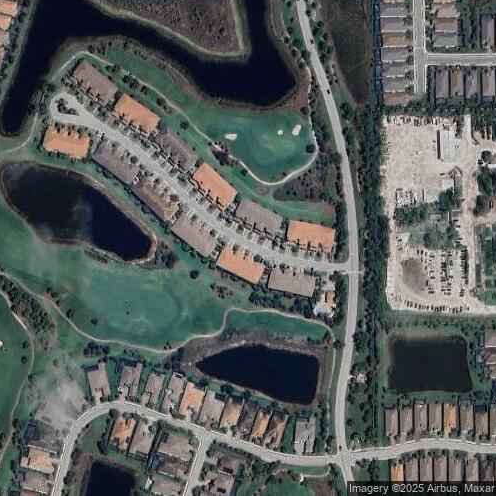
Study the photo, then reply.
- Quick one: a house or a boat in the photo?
house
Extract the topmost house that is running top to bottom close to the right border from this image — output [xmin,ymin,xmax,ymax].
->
[481,15,495,47]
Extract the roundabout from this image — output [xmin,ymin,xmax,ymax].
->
[51,93,105,132]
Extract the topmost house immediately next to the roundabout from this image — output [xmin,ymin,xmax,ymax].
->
[71,61,120,103]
